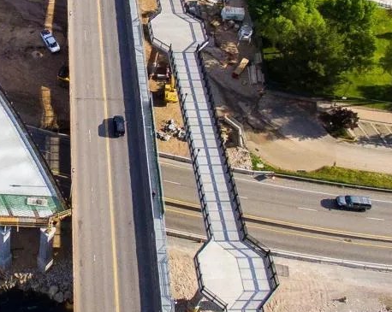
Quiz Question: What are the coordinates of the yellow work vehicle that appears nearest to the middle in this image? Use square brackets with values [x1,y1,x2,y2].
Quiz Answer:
[164,71,177,102]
